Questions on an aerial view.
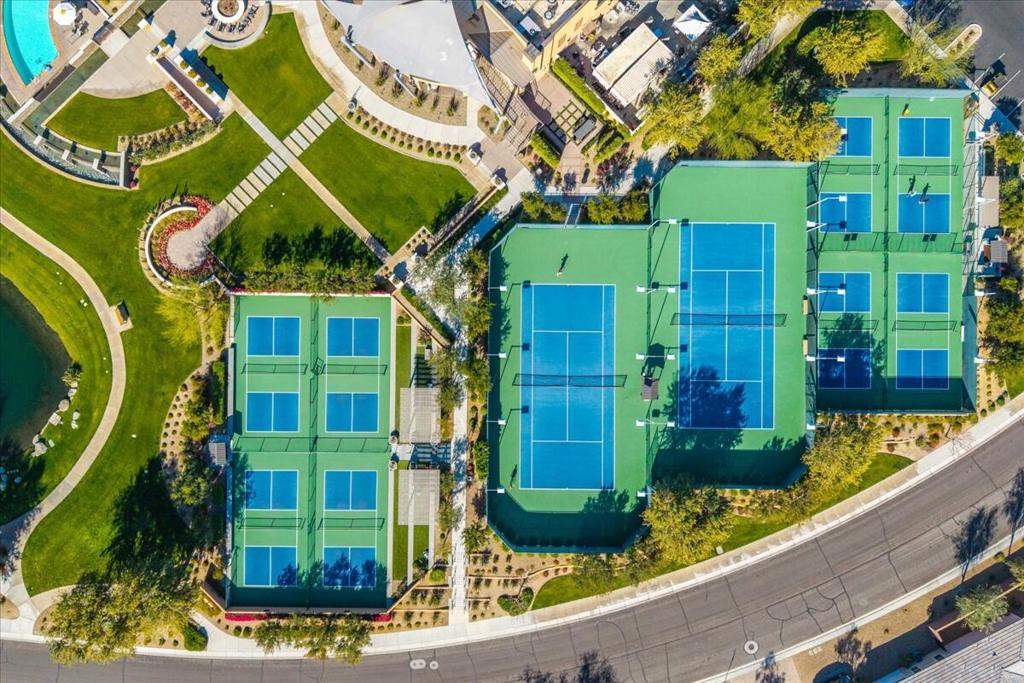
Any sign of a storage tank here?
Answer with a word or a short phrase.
No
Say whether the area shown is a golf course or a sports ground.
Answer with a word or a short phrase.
sports ground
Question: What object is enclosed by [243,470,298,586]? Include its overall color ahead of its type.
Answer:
blue sports court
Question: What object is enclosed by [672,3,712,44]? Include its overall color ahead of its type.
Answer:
white umbrella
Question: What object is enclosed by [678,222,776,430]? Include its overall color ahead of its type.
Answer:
blue tennis court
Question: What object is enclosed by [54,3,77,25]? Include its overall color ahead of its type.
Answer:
white umbrella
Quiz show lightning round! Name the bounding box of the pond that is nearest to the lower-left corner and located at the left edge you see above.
[0,279,53,454]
